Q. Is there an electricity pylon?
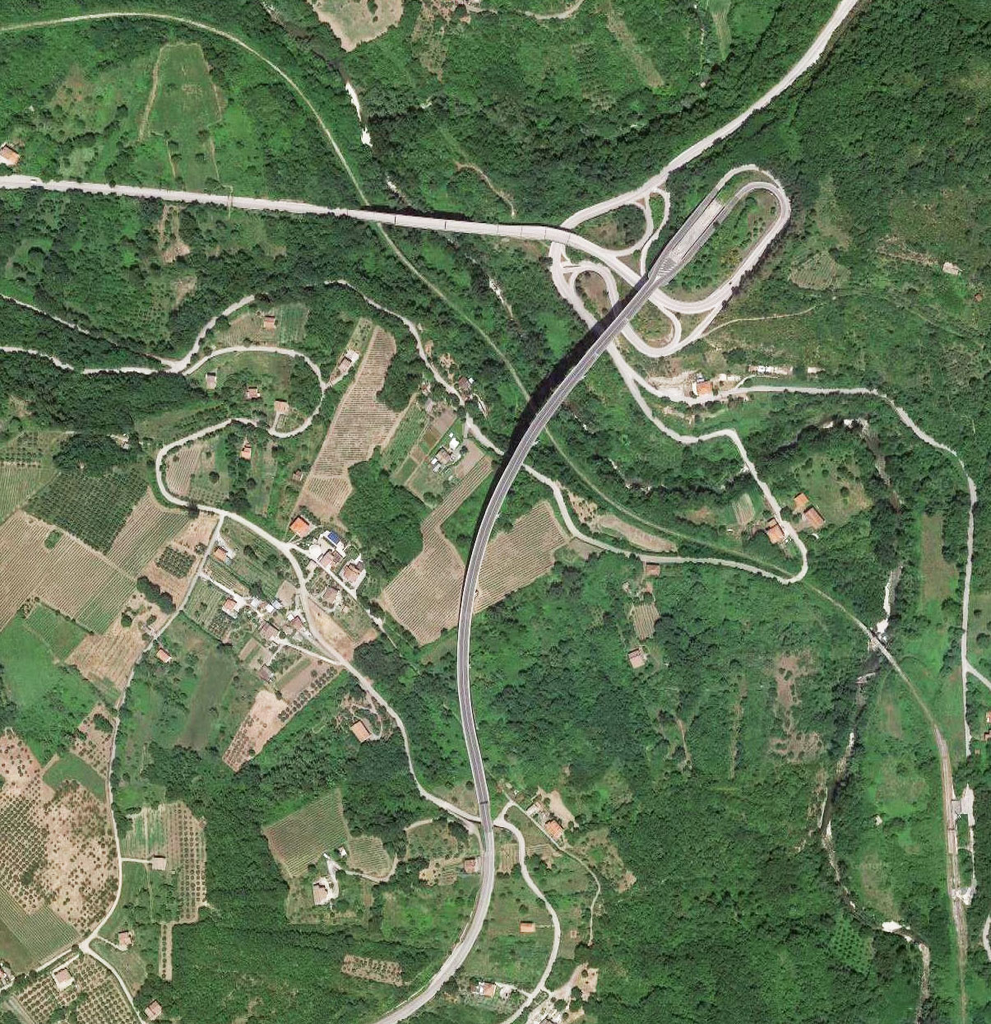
No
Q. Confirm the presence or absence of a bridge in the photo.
Yes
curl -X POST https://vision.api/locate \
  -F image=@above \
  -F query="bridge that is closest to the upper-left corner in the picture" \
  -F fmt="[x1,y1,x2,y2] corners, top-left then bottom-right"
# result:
[349,207,585,251]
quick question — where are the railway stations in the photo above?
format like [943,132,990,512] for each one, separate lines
[943,761,976,931]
